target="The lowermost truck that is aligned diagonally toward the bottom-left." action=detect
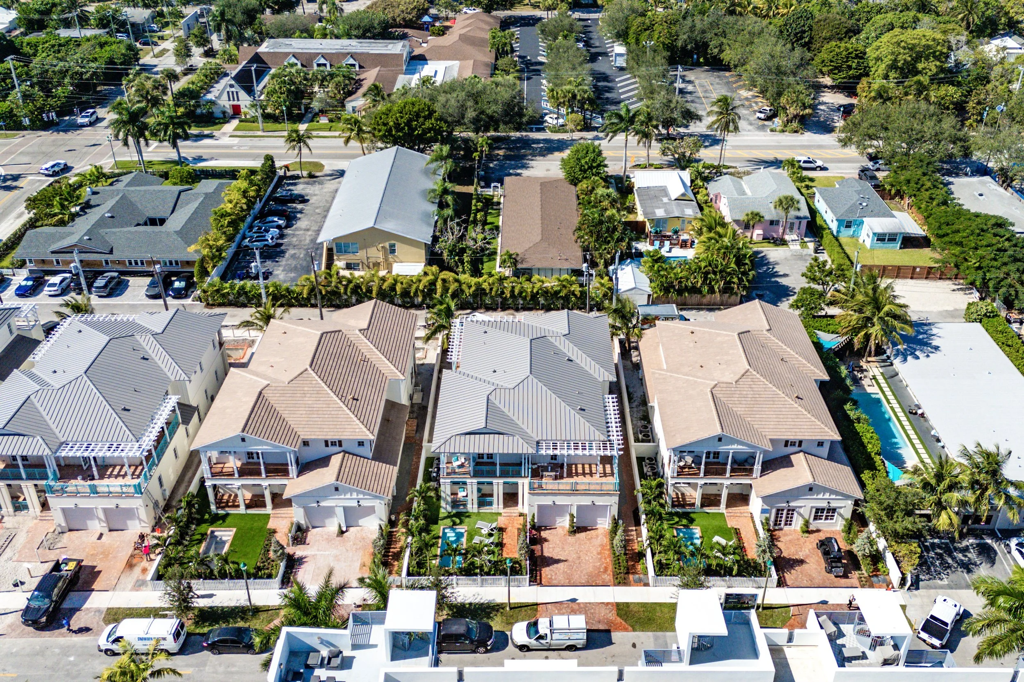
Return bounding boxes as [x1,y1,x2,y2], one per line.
[16,566,80,633]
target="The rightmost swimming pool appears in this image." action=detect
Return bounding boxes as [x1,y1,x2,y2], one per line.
[856,390,924,463]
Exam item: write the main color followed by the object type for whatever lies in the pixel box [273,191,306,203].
black vehicle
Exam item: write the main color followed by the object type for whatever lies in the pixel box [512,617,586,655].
white truck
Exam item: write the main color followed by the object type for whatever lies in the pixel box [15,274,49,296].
blue car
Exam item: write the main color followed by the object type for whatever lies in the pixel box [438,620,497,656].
black truck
